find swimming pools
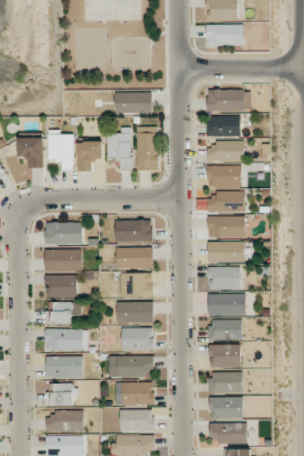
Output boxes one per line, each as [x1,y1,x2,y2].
[252,219,266,236]
[24,120,40,132]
